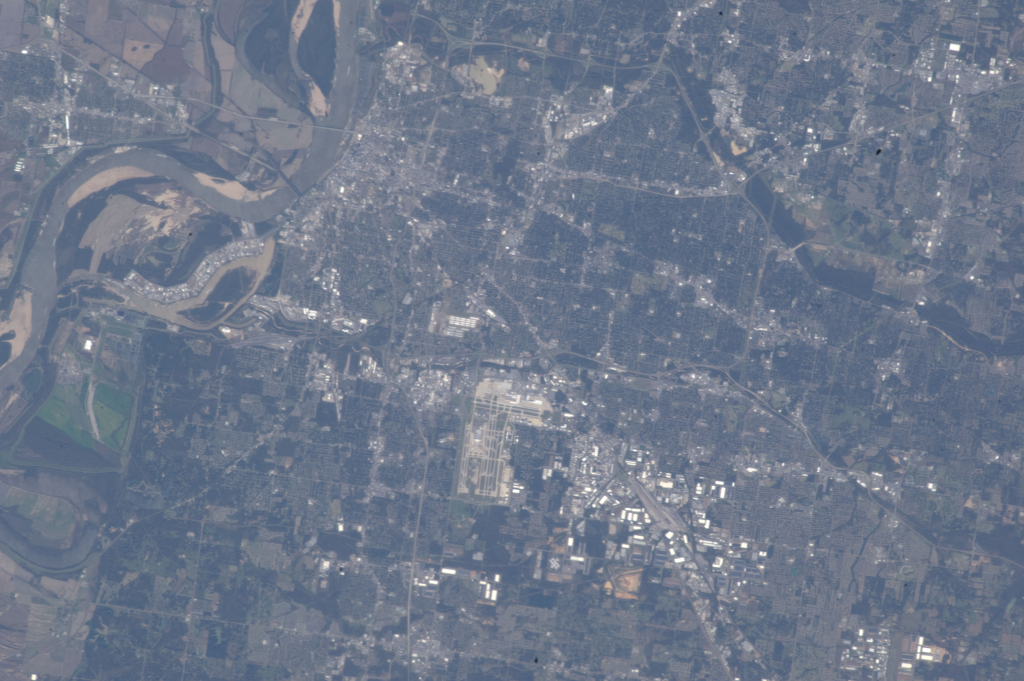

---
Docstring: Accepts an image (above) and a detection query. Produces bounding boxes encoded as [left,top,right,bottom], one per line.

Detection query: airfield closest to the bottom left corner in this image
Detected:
[451,378,553,500]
